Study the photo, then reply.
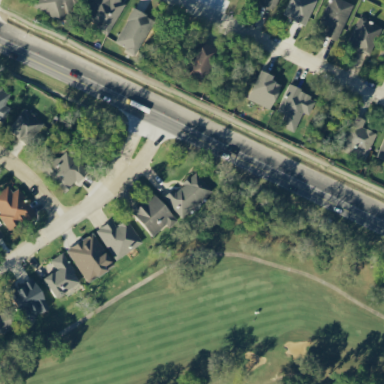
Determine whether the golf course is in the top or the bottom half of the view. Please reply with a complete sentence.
You can find the golf course in the bottom half.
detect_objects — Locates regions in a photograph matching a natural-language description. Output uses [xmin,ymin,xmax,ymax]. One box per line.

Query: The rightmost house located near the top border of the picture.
[354,14,384,58]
